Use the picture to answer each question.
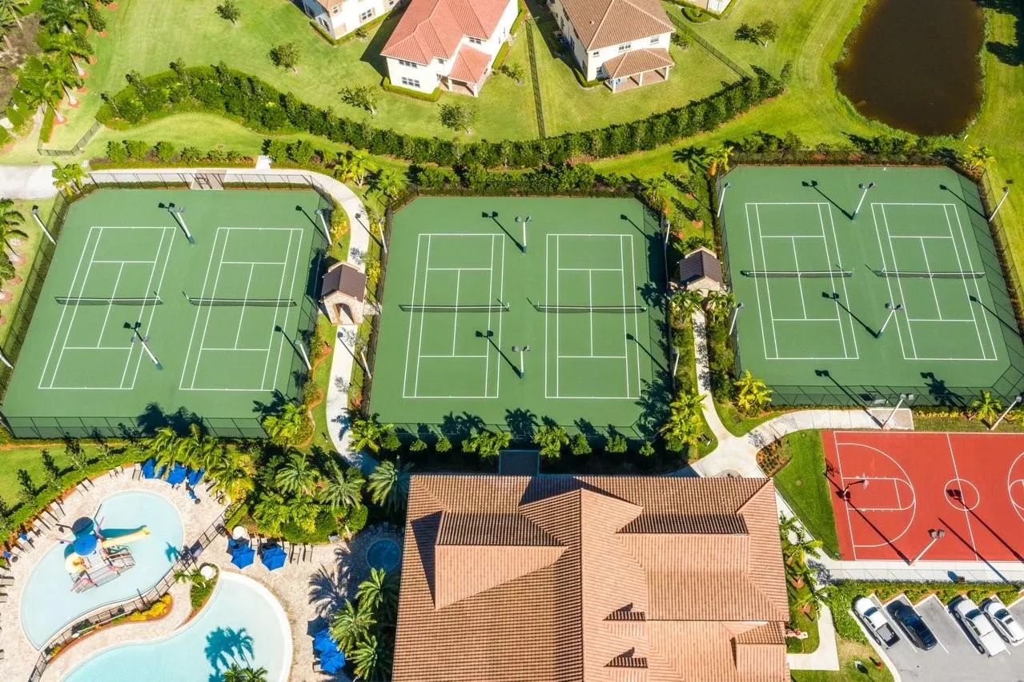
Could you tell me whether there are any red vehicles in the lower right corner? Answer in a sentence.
No, I can find no red vehicle in the lower right corner.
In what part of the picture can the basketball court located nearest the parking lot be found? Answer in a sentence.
The basketball court located nearest the parking lot appears toward the bottom right of the photo.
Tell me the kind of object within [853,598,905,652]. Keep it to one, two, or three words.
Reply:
truck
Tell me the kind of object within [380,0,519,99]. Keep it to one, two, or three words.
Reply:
house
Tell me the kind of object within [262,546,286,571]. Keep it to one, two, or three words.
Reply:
umbrella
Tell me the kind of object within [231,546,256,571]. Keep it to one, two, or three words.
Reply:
umbrella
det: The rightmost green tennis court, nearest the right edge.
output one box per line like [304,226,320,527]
[842,166,1024,407]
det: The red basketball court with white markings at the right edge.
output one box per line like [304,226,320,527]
[822,430,1024,565]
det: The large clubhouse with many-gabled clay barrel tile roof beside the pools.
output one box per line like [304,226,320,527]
[393,472,793,682]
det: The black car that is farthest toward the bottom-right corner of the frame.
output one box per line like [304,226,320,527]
[885,601,936,652]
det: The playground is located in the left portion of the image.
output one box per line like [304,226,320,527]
[57,520,151,594]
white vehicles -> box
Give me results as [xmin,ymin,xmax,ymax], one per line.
[983,603,1024,652]
[946,599,1007,659]
[853,598,905,652]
